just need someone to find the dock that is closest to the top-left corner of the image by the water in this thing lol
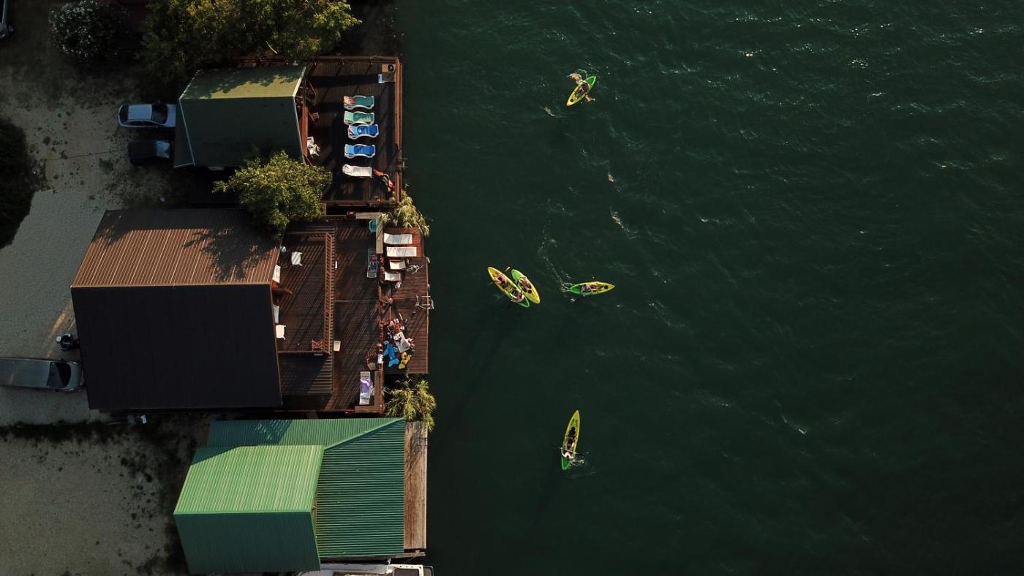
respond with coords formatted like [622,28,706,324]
[383,227,425,259]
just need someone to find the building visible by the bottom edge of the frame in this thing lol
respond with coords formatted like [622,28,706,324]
[173,417,404,576]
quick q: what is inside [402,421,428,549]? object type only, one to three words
pier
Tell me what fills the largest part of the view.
water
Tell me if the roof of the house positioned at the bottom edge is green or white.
green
